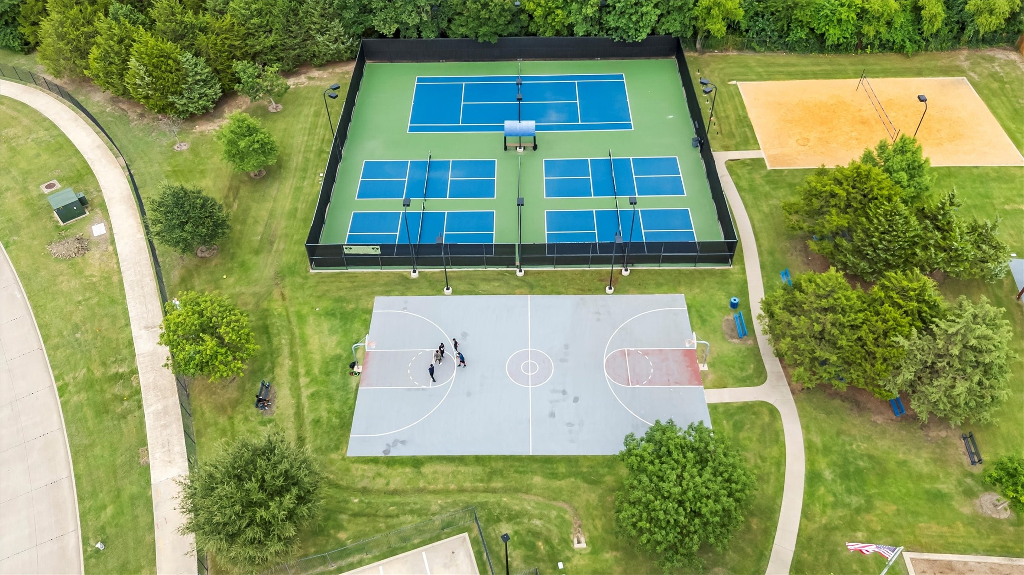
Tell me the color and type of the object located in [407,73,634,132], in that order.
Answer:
blue tennis court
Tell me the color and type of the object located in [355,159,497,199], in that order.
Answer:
blue sports court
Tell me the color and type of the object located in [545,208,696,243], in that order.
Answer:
blue sports court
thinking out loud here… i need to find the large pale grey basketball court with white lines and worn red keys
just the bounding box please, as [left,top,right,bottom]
[347,293,714,456]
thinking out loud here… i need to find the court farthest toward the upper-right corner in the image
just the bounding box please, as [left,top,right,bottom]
[737,76,1024,169]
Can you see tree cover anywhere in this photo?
Yes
